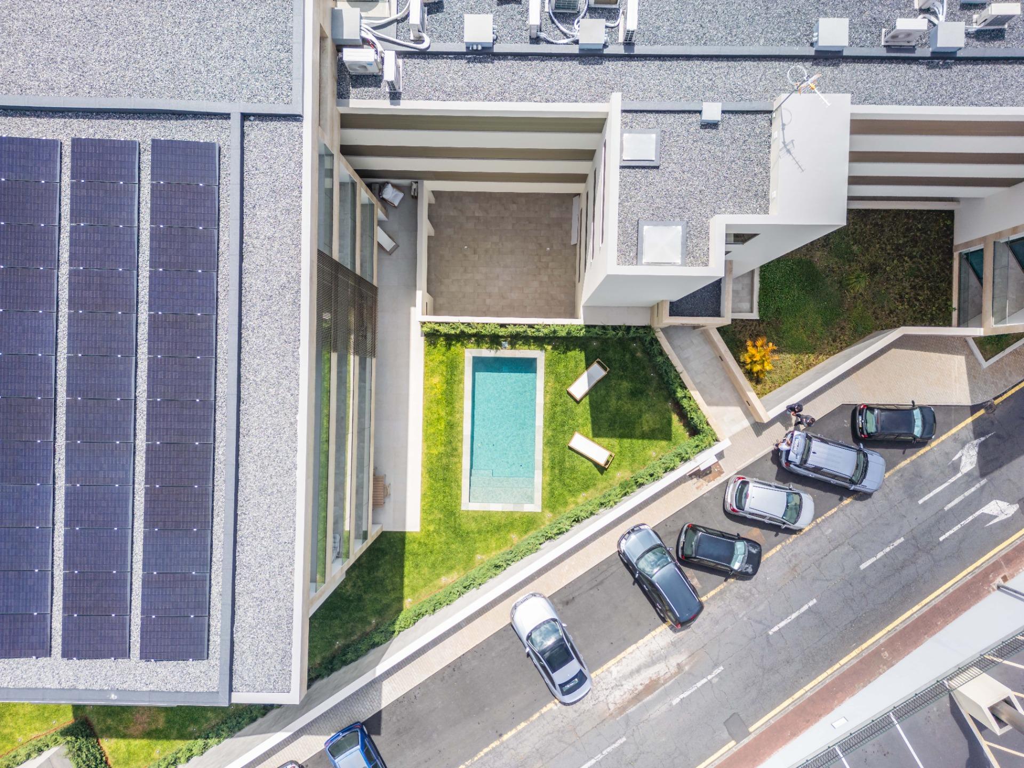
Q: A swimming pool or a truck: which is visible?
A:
swimming pool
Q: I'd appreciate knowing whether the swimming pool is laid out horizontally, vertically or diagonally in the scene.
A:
vertically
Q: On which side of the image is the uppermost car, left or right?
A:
right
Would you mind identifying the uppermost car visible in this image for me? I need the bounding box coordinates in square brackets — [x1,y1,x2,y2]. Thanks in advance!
[850,401,933,447]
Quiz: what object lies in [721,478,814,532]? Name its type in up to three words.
car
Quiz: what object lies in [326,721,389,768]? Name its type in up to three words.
car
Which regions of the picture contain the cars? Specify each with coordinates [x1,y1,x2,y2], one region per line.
[326,721,389,768]
[511,588,593,705]
[783,431,882,496]
[674,524,761,581]
[618,521,709,630]
[850,401,933,447]
[721,478,814,532]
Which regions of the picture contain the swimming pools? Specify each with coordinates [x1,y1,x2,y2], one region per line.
[461,349,545,512]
